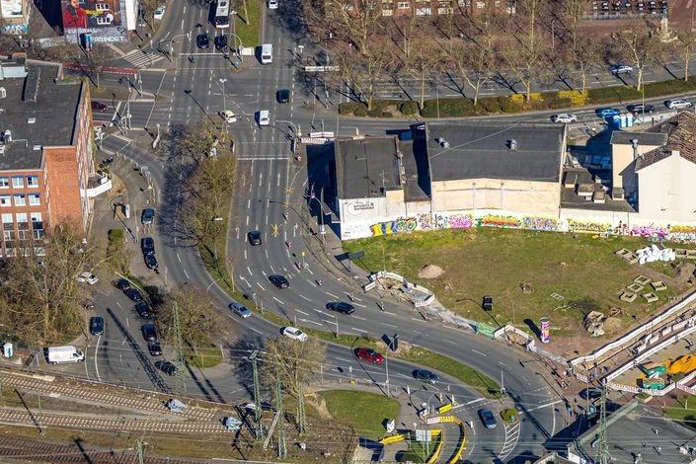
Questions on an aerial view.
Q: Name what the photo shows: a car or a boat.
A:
car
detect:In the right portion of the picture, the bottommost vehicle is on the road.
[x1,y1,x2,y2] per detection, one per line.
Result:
[481,407,496,428]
